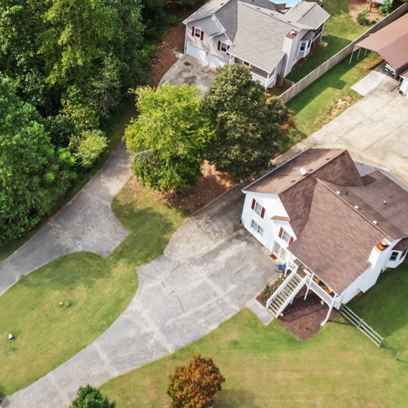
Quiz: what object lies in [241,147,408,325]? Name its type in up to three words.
house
